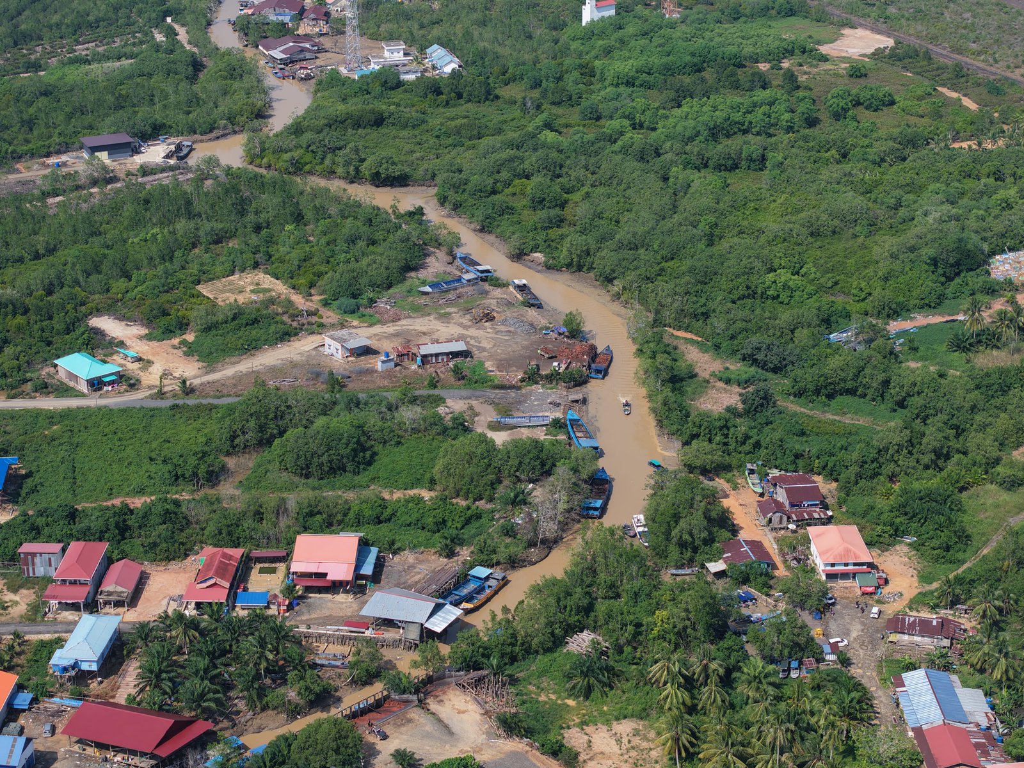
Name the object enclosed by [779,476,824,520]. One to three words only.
house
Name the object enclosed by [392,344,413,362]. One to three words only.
shed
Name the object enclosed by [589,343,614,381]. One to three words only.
ship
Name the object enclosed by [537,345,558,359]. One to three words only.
vehicle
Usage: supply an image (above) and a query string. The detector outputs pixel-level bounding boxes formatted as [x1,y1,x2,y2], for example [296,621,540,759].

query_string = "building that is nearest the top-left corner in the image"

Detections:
[85,131,145,159]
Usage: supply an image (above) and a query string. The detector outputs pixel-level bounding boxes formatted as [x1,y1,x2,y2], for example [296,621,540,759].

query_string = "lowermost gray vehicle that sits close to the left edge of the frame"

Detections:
[40,721,56,739]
